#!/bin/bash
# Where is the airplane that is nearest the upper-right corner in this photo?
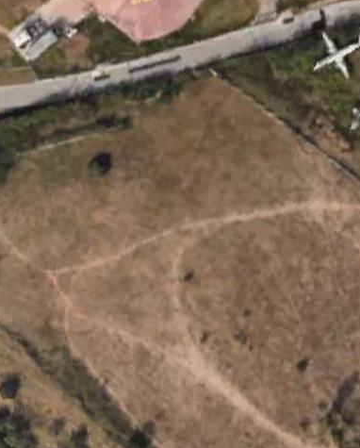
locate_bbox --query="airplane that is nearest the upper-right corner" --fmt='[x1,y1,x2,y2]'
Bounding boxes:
[314,32,360,77]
